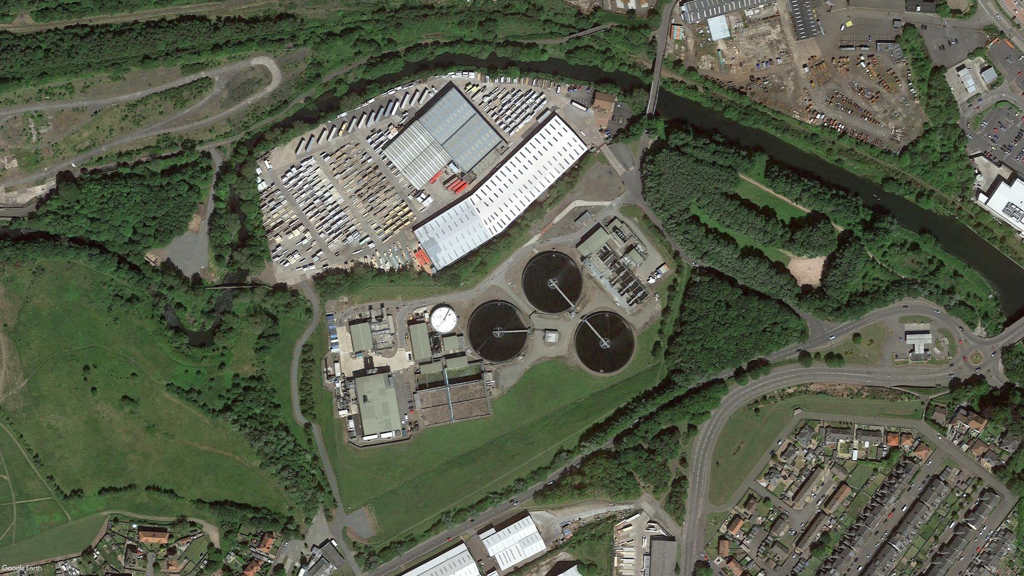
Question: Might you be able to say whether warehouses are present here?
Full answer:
Yes, I can see a warehouse in this picture.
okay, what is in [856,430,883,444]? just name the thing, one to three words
house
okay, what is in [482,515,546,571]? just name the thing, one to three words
building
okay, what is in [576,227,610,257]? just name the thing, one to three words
building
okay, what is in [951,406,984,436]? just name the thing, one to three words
house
